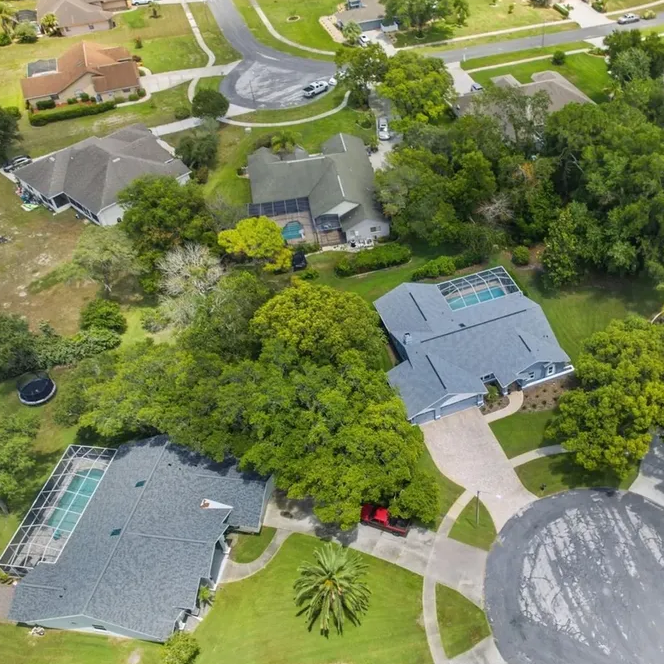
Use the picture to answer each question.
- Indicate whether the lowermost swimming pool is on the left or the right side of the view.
left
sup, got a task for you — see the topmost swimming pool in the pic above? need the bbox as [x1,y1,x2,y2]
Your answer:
[252,209,318,244]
